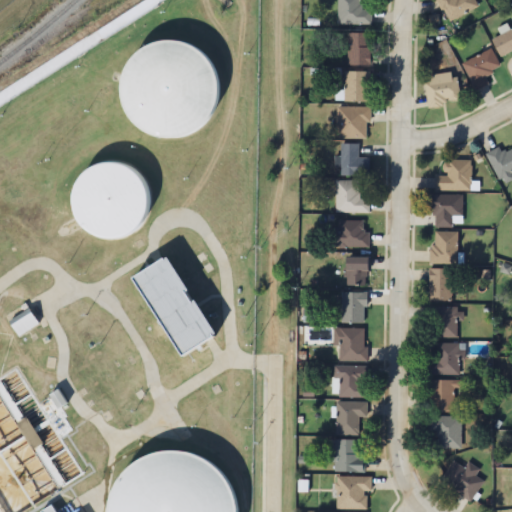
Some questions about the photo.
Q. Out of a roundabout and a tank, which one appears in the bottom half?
tank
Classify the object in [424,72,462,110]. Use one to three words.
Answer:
house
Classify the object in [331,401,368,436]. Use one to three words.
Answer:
house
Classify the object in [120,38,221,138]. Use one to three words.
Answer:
storage tank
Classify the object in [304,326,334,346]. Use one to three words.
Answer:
swimming pool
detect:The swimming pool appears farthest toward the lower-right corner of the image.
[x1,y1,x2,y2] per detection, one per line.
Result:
[468,341,491,358]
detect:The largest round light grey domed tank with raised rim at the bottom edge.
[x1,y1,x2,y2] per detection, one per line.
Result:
[106,447,240,512]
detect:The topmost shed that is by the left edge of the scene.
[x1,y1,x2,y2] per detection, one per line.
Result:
[10,308,41,337]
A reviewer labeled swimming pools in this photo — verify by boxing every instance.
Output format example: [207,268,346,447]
[468,341,491,358]
[304,326,334,346]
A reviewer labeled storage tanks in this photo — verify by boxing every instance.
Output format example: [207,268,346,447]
[106,447,240,512]
[71,160,152,240]
[120,38,221,138]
